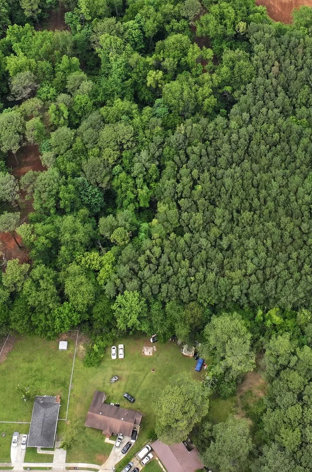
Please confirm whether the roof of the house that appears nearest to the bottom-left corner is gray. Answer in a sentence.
Yes, the roof of the house that appears nearest to the bottom-left corner appears gray.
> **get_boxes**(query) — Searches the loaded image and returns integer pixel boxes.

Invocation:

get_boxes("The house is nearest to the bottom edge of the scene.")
[152,433,203,472]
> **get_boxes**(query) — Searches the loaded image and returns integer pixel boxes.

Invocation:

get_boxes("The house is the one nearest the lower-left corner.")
[27,396,61,447]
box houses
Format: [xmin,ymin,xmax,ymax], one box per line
[152,433,203,472]
[86,391,142,436]
[27,396,61,447]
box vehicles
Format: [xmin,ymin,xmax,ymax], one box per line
[118,344,125,359]
[122,392,136,404]
[195,357,204,372]
[138,443,152,460]
[120,440,132,456]
[122,460,134,472]
[129,425,139,446]
[112,345,117,359]
[140,450,156,469]
[20,433,28,450]
[114,434,123,450]
[11,430,20,449]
